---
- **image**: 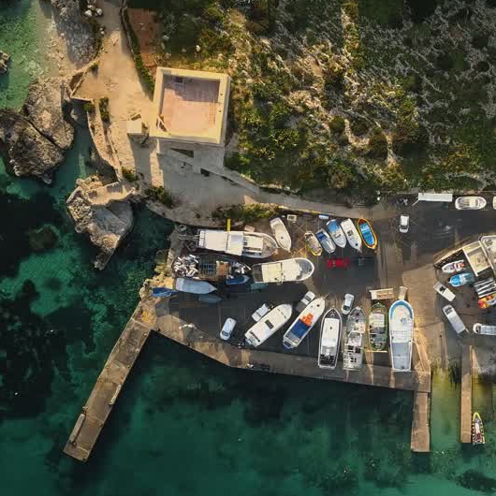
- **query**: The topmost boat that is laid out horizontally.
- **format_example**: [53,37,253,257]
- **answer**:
[455,195,485,208]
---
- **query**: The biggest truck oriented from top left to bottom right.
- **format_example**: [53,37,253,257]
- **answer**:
[443,305,466,333]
